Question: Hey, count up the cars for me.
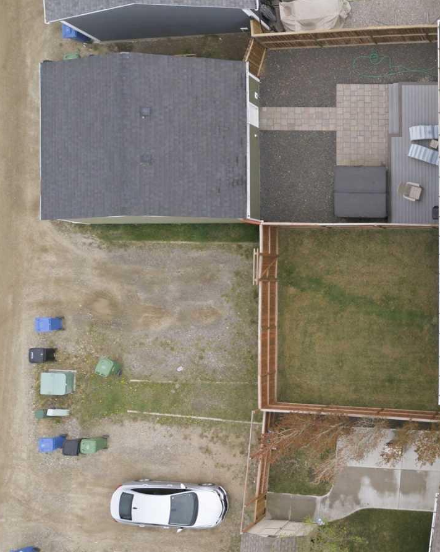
1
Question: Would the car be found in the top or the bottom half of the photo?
bottom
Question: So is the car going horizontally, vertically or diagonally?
horizontally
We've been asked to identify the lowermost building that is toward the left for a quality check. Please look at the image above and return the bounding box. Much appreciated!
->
[38,50,260,224]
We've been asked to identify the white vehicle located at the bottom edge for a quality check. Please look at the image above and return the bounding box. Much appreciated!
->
[111,477,233,537]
